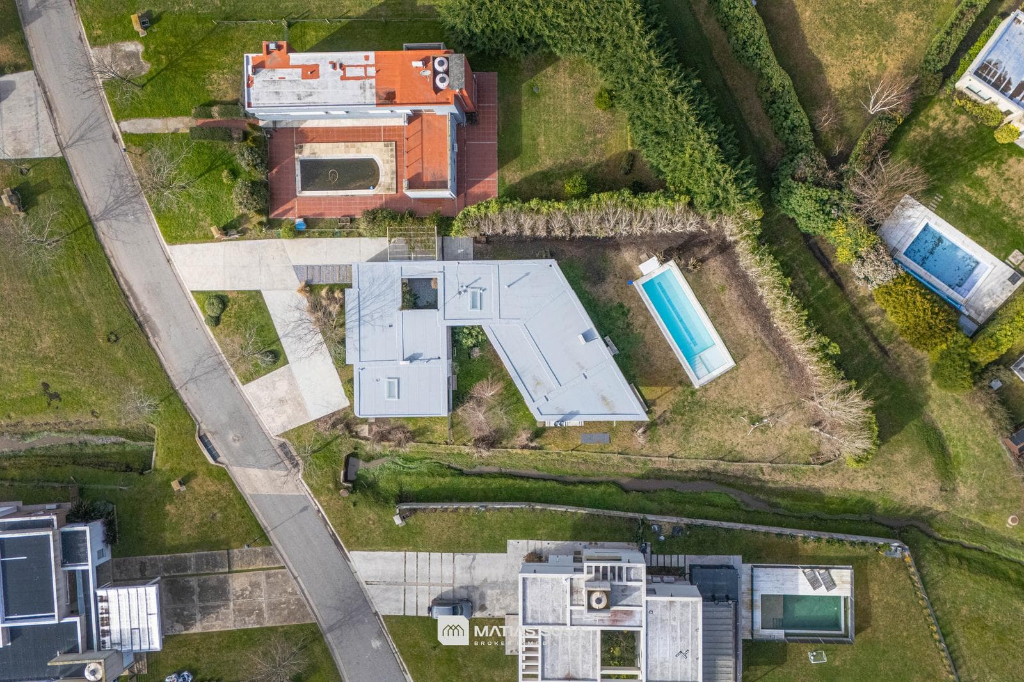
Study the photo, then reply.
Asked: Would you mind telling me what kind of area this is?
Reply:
residential area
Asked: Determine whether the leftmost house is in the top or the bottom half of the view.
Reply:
bottom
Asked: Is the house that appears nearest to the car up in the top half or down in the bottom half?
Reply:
bottom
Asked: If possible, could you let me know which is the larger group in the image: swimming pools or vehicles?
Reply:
swimming pools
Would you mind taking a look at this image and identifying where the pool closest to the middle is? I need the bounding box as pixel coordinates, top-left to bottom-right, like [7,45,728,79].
[634,260,735,388]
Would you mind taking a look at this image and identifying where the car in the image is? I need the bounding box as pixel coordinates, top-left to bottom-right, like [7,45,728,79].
[425,598,472,623]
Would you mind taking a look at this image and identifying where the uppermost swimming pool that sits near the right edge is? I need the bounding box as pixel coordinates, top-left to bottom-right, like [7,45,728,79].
[876,197,1024,324]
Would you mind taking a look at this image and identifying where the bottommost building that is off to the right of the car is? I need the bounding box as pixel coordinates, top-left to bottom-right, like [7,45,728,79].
[519,550,738,682]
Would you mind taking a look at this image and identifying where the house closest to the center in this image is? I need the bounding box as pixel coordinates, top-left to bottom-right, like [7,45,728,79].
[345,259,648,425]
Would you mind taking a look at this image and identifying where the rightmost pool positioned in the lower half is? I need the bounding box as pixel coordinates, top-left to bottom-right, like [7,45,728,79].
[752,566,850,638]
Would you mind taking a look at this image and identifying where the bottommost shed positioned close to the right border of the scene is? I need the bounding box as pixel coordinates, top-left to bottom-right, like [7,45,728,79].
[994,422,1024,463]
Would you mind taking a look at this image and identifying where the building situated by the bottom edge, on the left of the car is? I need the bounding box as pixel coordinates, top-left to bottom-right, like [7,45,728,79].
[0,510,175,682]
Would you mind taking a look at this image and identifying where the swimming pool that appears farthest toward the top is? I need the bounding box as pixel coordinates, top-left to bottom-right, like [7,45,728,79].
[295,142,396,194]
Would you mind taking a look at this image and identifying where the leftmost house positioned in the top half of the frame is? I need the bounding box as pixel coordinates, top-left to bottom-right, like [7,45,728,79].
[245,41,476,199]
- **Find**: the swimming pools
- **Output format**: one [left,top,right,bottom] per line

[634,260,735,388]
[876,197,1024,324]
[295,142,396,194]
[752,566,850,638]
